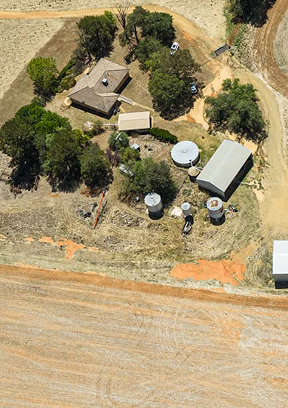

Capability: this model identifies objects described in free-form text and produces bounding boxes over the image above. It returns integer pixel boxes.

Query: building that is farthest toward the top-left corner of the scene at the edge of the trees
[67,59,129,117]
